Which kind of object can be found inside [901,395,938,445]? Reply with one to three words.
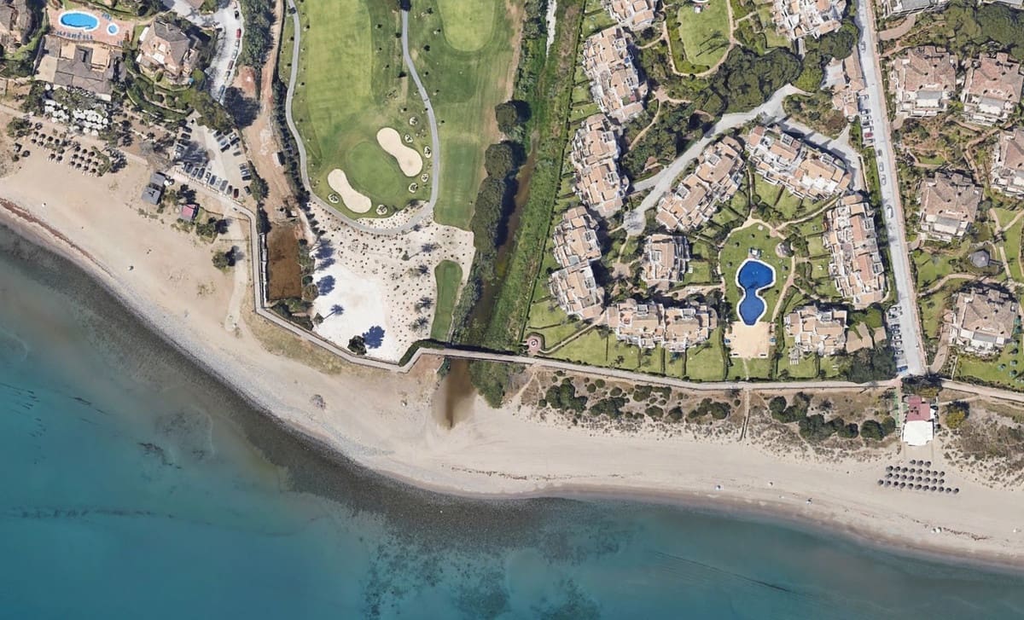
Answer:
building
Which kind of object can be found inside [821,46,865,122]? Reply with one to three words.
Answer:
house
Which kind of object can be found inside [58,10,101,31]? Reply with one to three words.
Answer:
swimming pool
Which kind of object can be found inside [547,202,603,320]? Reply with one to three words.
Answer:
building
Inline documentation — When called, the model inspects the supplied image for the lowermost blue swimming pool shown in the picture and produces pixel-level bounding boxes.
[737,259,775,327]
